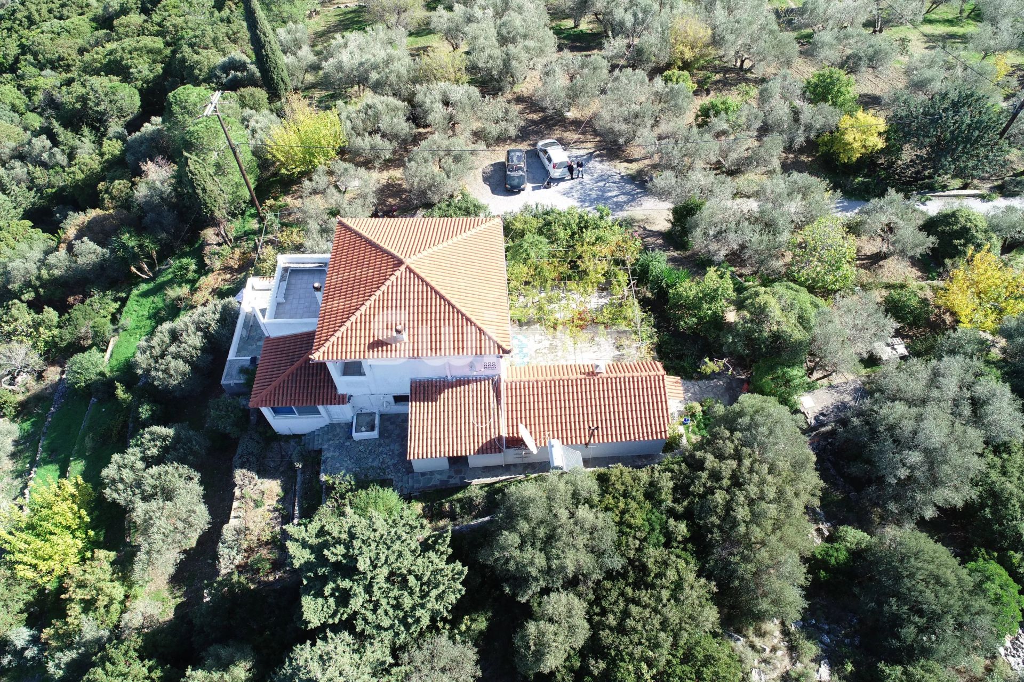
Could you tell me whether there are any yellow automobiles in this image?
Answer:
No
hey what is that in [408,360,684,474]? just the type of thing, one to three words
shed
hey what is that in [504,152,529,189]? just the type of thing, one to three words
car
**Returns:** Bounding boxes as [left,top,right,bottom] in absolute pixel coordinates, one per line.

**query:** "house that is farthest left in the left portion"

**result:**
[221,215,513,428]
